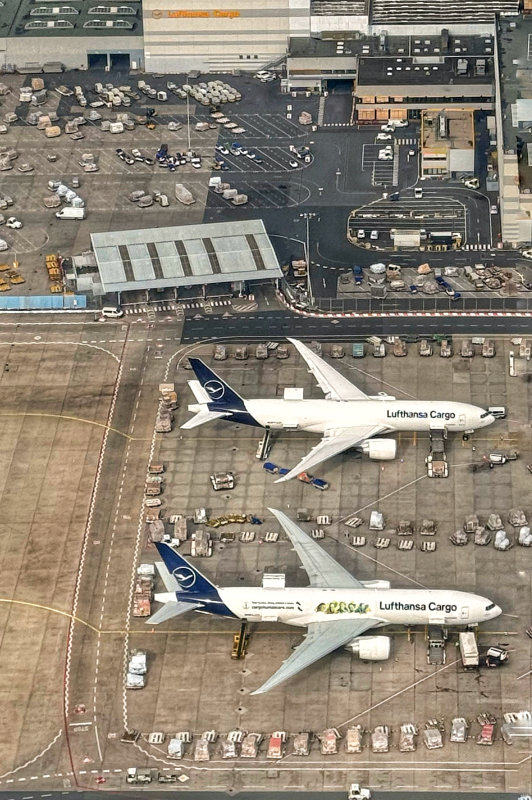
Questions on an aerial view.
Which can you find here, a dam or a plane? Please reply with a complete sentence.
There is a plane in the scene.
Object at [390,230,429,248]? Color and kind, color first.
white vehicle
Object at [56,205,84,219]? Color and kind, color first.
white vehicle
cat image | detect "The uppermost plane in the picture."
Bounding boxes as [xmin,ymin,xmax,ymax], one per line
[181,338,495,483]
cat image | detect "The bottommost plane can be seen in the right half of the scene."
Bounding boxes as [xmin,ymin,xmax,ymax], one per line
[146,509,502,694]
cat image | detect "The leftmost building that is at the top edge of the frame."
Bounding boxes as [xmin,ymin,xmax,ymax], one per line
[0,0,142,71]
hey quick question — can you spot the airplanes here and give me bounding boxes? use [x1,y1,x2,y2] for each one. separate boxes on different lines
[146,509,502,694]
[181,338,495,483]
